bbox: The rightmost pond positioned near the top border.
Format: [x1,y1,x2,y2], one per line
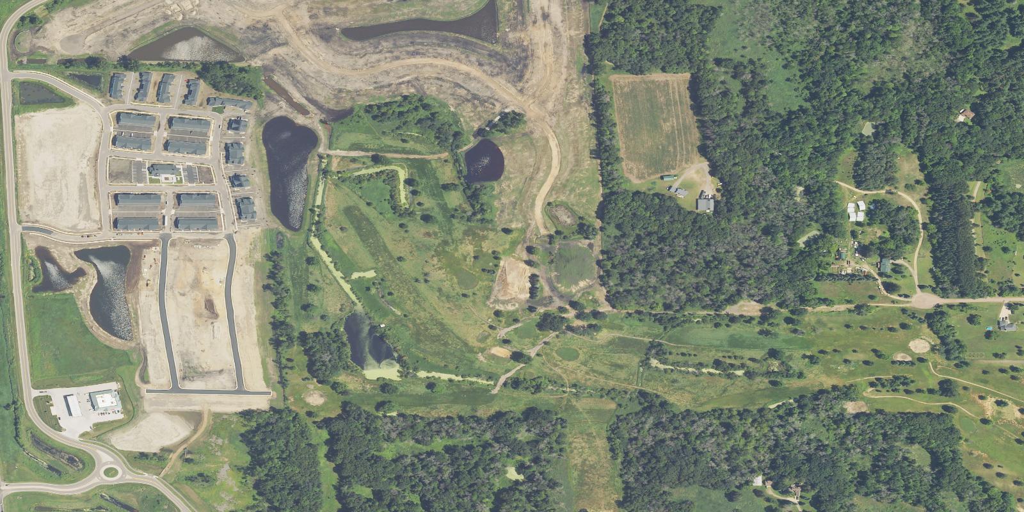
[342,0,498,43]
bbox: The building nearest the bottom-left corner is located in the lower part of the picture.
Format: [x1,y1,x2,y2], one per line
[91,389,121,411]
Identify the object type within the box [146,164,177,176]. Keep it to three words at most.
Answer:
building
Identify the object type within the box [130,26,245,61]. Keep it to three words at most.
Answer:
pond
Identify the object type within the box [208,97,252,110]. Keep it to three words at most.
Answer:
house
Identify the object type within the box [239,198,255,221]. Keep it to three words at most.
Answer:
house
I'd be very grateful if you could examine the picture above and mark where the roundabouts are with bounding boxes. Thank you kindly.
[81,446,135,489]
